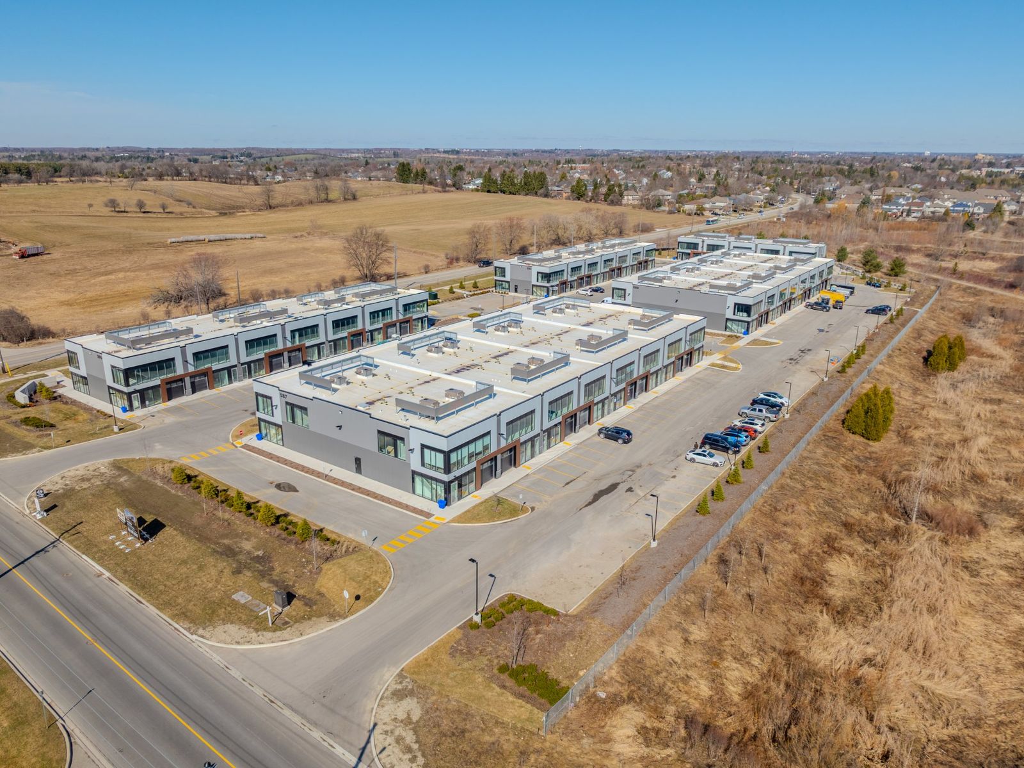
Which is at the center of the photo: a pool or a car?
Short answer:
car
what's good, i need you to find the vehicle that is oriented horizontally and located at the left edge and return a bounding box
[12,243,45,258]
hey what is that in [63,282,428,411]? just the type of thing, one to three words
building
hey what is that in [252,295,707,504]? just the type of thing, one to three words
building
